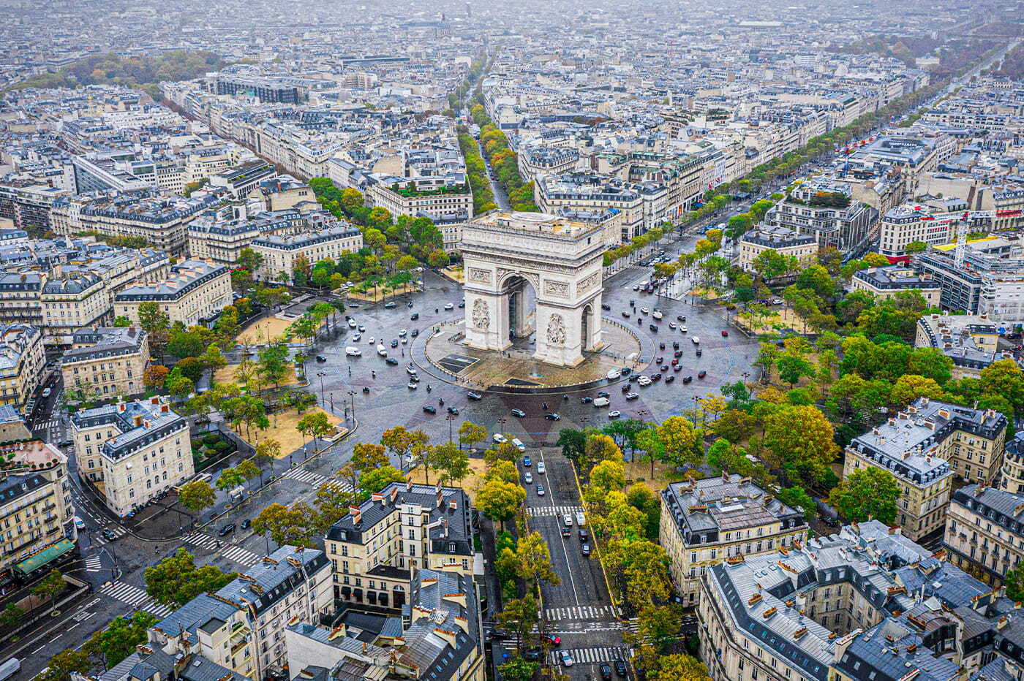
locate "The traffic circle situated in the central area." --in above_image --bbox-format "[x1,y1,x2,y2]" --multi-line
[255,275,807,473]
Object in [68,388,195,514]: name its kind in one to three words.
house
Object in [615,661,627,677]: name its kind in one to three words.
vehicle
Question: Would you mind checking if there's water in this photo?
No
